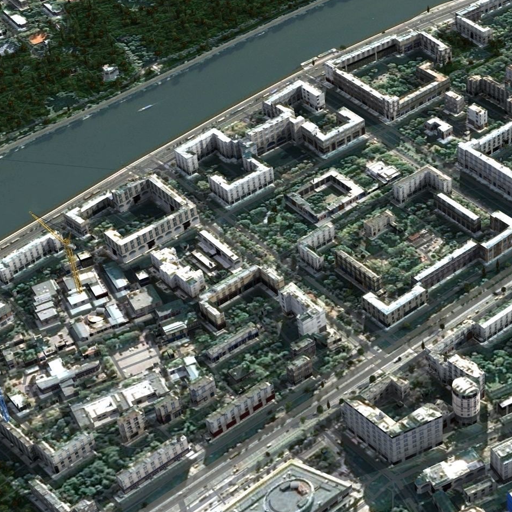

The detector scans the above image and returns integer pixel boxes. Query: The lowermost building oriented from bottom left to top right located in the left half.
[115,434,190,491]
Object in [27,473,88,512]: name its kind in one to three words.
building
